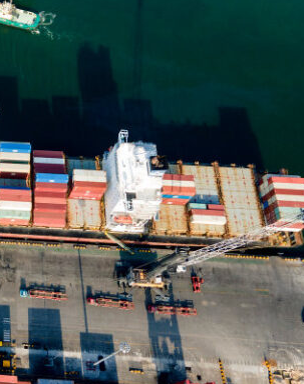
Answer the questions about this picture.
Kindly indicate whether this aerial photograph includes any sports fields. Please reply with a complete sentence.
No, there's no sports field here.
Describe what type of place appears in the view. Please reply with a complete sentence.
The picture captures a port.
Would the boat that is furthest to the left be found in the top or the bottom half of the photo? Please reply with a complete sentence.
The boat that is furthest to the left is in the top half of the image.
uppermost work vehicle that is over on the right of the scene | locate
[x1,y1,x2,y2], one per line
[189,272,202,292]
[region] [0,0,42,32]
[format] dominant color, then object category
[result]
white boat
